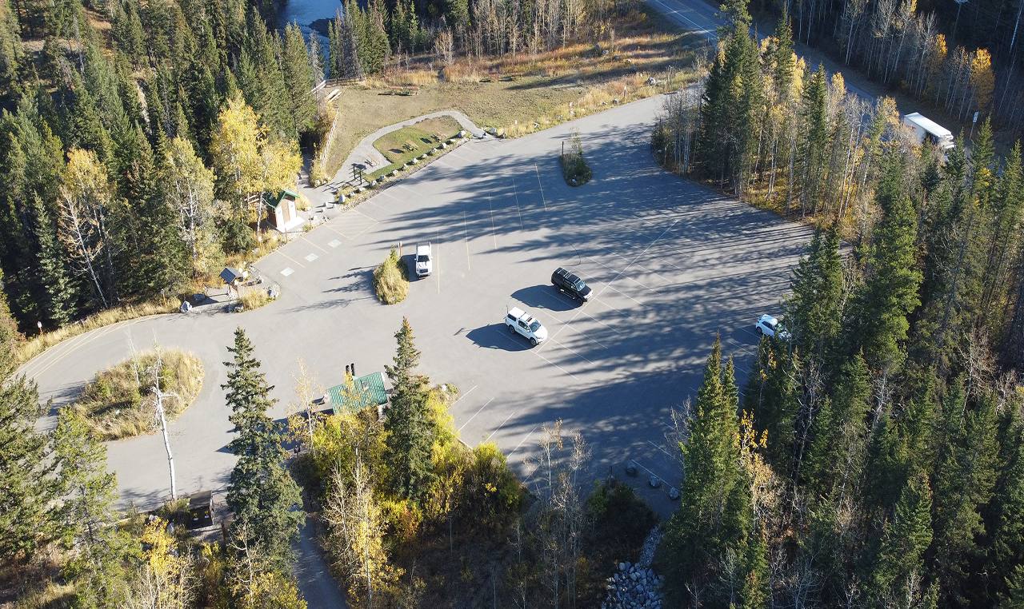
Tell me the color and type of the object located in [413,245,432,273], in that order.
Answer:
white vehicle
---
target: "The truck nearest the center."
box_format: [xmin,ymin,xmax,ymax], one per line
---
[505,310,551,345]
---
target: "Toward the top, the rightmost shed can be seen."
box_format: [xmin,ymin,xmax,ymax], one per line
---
[249,182,309,232]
